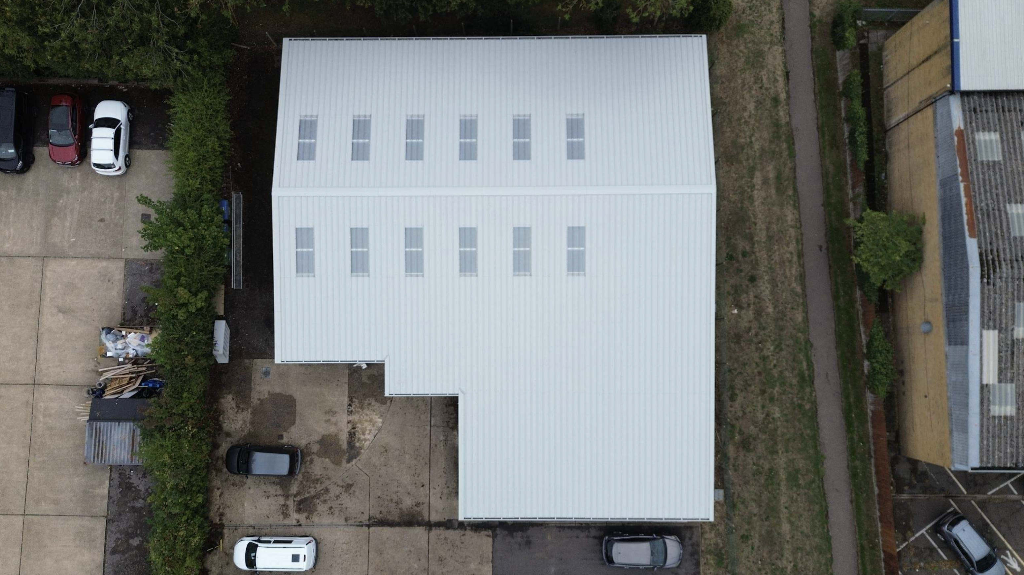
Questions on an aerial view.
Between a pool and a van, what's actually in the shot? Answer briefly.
van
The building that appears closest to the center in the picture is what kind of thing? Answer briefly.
warehouse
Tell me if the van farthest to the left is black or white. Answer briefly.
black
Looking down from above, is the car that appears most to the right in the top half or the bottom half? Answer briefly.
bottom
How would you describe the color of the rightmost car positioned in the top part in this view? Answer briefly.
white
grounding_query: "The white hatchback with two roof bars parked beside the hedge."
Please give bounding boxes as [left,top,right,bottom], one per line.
[88,103,134,176]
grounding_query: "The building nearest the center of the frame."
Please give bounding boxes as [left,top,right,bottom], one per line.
[271,34,716,520]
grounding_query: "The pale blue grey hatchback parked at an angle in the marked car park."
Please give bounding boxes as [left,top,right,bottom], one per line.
[933,504,1005,575]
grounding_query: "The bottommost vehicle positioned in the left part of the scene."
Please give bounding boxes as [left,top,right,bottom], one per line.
[235,533,320,575]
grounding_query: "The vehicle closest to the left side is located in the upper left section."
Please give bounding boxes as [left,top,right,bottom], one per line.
[0,88,35,173]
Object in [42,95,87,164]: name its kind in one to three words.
car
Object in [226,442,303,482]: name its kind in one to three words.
car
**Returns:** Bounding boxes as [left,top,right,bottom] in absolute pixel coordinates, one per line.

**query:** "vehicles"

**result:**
[42,95,87,164]
[88,103,134,176]
[933,504,1005,575]
[226,442,303,482]
[601,532,682,575]
[235,533,320,575]
[0,88,35,173]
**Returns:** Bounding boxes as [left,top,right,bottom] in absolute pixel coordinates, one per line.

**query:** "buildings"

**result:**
[84,397,182,465]
[271,34,716,520]
[887,95,1024,474]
